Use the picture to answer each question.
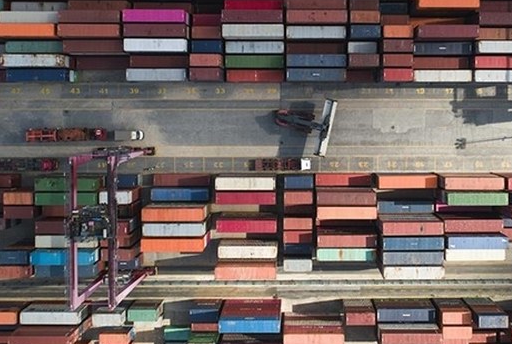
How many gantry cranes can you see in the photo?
1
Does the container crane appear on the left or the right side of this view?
left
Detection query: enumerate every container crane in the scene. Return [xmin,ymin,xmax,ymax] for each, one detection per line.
[60,147,164,308]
